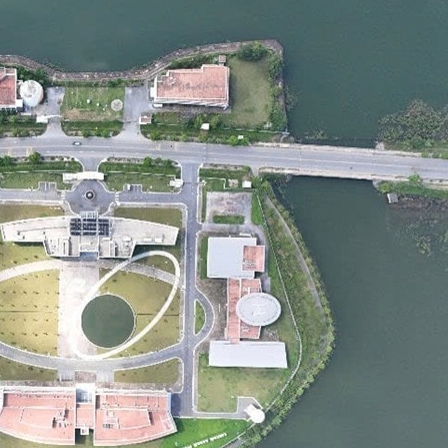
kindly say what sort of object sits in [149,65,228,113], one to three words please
building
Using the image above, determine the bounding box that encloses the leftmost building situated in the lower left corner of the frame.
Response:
[0,383,75,444]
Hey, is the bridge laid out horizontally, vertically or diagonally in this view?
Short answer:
horizontally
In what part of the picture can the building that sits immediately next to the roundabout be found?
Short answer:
left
